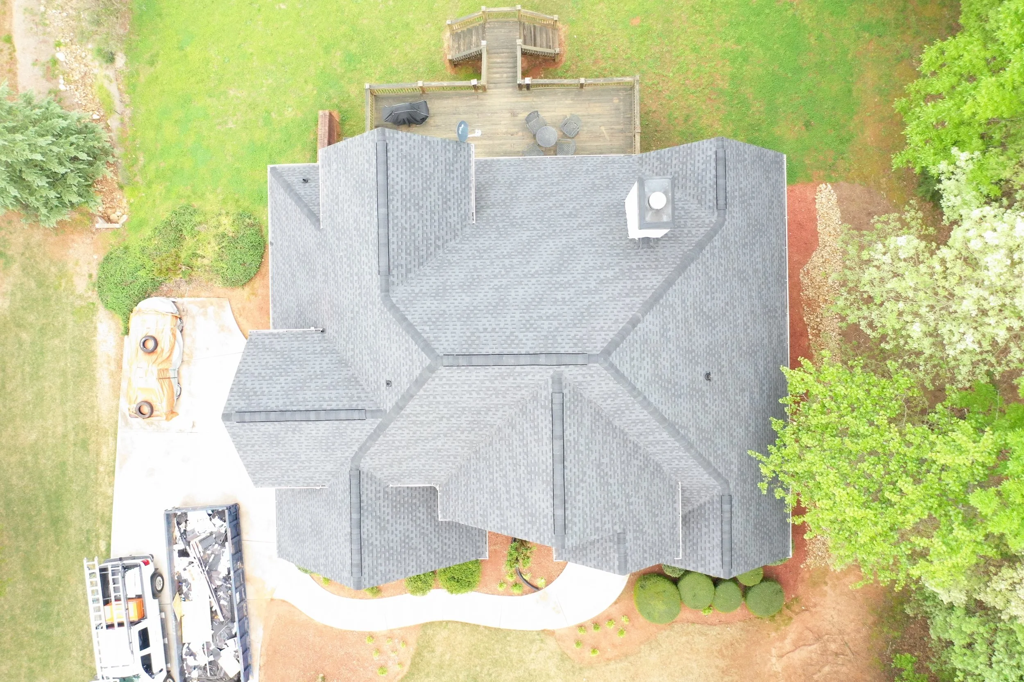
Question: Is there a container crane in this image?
No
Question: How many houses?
1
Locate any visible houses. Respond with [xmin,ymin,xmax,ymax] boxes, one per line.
[222,127,793,591]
